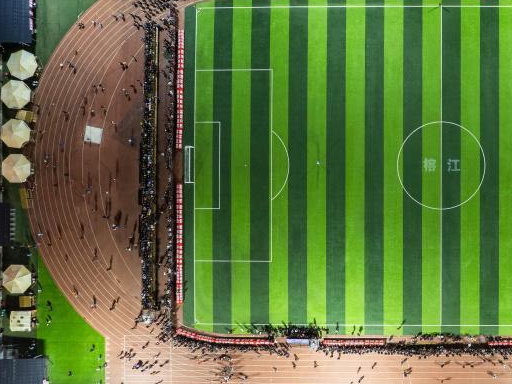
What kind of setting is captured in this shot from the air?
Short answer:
sports ground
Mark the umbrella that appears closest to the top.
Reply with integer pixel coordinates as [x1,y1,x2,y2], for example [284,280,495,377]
[7,49,42,80]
